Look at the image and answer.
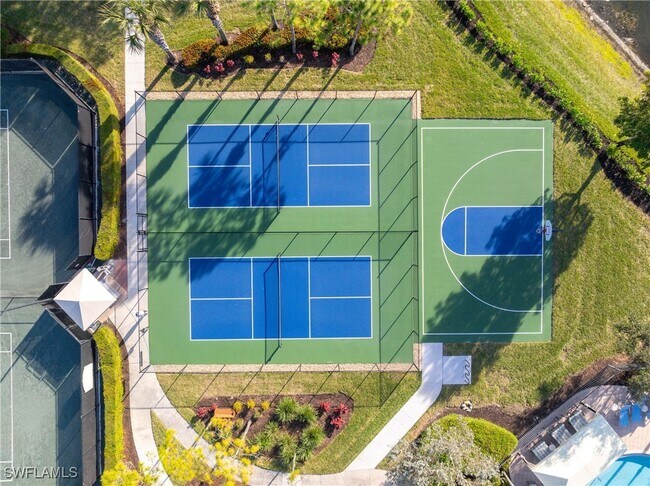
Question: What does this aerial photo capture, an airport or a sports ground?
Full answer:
This image shows a sports ground.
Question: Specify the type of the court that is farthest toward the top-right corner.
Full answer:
I'd say the court that is farthest toward the top-right corner is a basketball court.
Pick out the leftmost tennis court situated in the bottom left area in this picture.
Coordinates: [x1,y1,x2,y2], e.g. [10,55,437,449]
[0,297,84,486]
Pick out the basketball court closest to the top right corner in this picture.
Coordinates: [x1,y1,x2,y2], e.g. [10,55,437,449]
[418,120,554,343]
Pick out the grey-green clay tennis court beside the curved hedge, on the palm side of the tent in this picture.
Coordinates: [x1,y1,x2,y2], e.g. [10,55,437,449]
[0,72,83,297]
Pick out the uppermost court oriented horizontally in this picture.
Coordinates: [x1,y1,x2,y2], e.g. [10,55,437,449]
[146,98,418,233]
